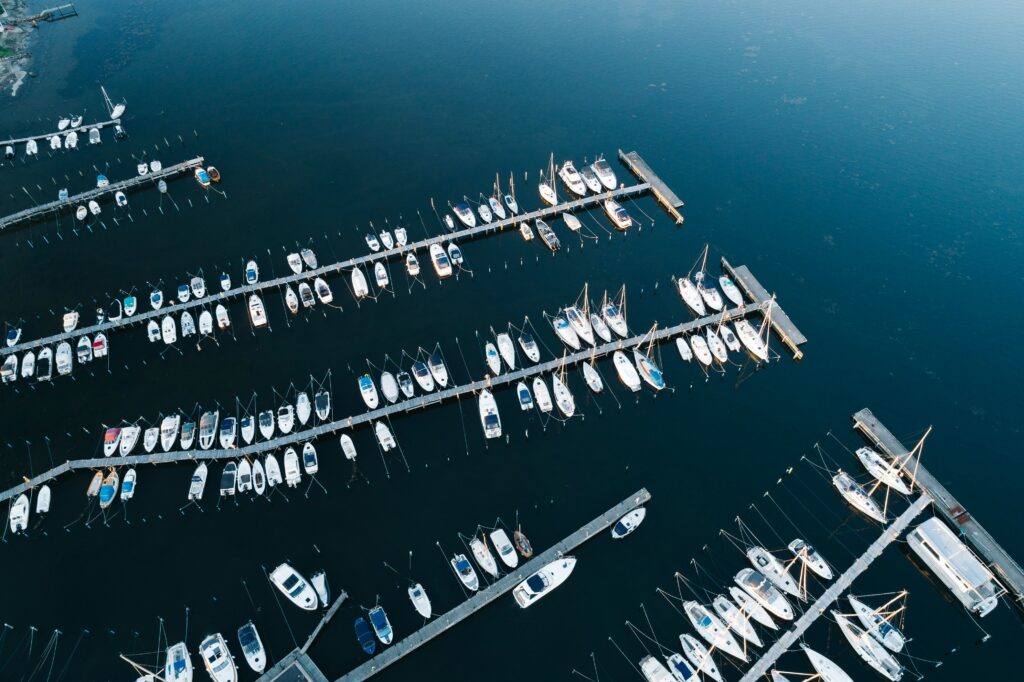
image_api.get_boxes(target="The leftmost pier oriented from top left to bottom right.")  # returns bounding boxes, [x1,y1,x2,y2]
[625,151,684,210]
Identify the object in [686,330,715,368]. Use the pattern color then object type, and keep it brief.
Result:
white boat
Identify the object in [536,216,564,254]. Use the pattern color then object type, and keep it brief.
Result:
gray boat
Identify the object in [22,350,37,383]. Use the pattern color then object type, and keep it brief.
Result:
white boat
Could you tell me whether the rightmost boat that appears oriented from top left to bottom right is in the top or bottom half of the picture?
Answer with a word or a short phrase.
bottom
